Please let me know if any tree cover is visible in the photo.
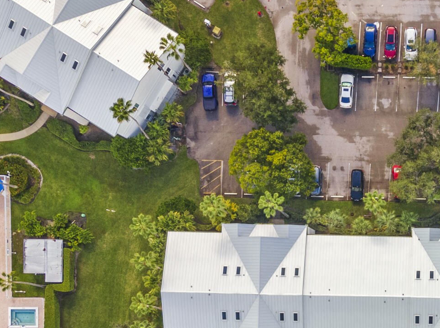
Yes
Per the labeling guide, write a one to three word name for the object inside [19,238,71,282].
shed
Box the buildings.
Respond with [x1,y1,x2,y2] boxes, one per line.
[161,207,440,328]
[19,238,71,282]
[0,0,185,138]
